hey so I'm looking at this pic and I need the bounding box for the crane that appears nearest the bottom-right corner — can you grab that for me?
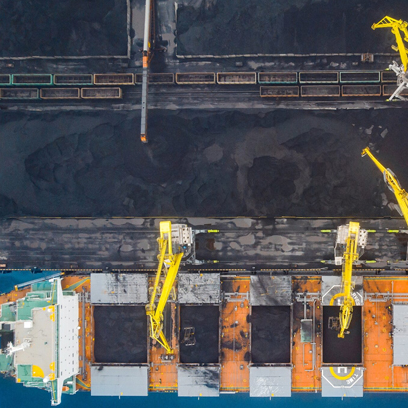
[320,221,377,337]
